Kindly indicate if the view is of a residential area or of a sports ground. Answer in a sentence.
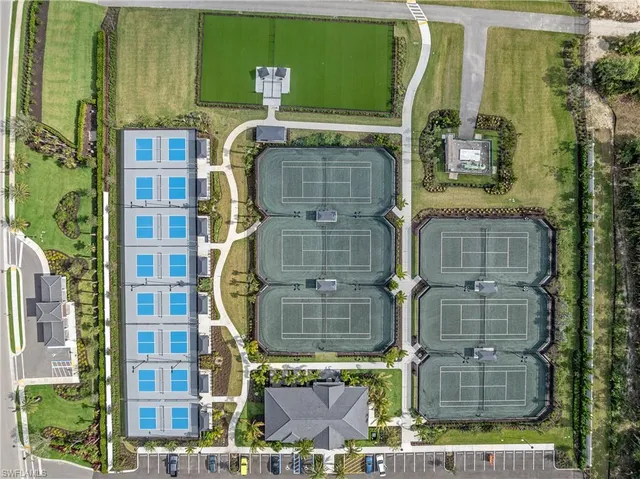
It's a sports ground.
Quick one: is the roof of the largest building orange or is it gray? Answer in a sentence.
The roof of the largest building is gray.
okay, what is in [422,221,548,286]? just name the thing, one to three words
tennis court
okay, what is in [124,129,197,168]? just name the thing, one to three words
sports court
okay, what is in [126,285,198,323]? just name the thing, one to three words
sports court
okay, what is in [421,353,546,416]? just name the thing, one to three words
tennis court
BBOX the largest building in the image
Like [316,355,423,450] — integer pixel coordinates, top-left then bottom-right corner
[264,378,369,454]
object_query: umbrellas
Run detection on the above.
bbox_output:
[276,68,286,84]
[258,67,269,84]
